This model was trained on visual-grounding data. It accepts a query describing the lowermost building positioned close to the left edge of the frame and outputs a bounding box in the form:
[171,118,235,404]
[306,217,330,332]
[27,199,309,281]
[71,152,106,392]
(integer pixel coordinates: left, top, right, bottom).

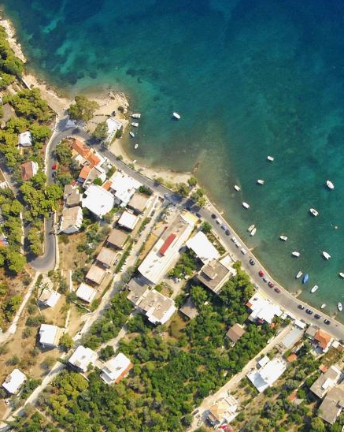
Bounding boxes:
[2,368,30,394]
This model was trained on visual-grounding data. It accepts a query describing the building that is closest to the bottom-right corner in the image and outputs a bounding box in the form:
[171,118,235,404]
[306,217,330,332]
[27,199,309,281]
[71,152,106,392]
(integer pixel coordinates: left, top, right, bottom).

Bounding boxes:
[318,385,344,421]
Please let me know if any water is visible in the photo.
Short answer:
Yes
